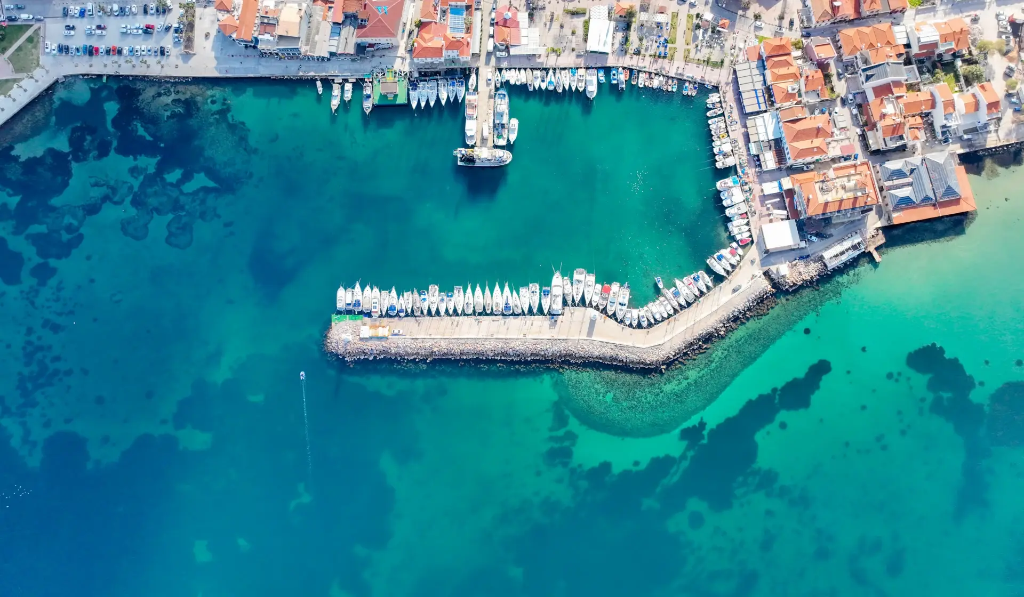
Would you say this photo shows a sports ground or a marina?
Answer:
marina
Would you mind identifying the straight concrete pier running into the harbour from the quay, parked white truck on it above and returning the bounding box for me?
[476,68,495,148]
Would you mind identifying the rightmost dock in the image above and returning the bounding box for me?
[865,230,886,262]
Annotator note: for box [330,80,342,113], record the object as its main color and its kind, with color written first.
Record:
white boat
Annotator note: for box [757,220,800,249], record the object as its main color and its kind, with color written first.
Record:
white tent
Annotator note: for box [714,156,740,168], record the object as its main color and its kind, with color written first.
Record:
white boat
